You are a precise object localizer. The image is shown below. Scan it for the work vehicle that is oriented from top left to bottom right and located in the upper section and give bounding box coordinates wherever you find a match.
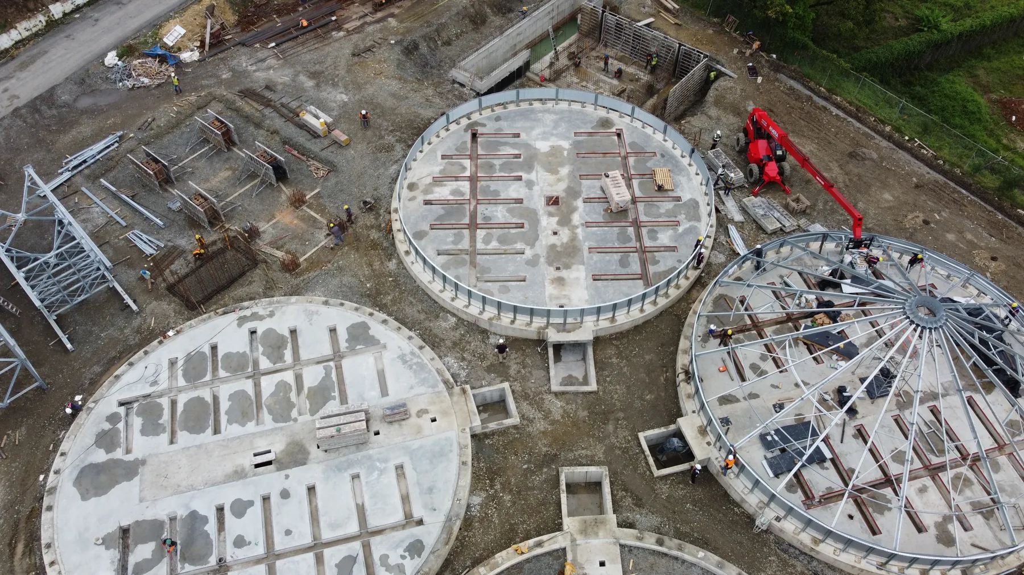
[728,104,875,270]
